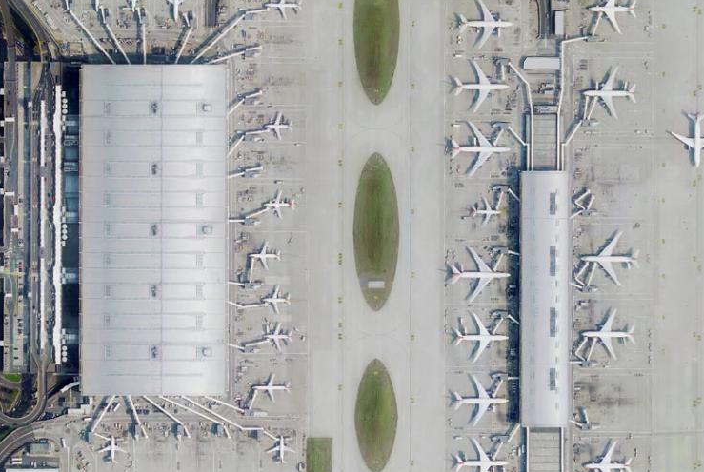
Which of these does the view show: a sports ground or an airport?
airport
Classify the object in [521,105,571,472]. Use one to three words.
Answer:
building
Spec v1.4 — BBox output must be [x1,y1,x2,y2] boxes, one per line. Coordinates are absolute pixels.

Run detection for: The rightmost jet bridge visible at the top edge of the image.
[558,12,602,171]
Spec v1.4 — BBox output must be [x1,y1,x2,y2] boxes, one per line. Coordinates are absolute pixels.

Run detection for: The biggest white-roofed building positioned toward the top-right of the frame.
[524,56,560,69]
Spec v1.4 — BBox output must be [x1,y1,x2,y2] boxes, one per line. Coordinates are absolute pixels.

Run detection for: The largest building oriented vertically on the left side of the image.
[77,64,230,395]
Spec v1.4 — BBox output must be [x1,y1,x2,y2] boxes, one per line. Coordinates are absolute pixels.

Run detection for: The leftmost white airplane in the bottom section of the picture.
[100,436,127,463]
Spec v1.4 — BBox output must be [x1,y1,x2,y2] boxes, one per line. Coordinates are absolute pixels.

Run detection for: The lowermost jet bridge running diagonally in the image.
[492,424,521,461]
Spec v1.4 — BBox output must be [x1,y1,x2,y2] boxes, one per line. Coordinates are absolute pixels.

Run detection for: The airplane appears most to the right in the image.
[671,113,704,167]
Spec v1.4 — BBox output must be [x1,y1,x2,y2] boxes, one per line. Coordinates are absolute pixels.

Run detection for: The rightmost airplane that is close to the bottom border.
[584,442,632,472]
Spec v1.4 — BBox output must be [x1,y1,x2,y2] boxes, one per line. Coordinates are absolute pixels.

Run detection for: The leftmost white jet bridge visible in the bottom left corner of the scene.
[85,396,115,441]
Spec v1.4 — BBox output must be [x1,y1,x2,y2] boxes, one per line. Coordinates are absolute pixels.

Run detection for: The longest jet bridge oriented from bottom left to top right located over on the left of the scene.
[191,7,270,64]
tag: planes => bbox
[265,323,292,350]
[268,436,295,463]
[581,231,639,285]
[456,60,510,112]
[455,374,509,426]
[590,0,637,32]
[262,285,291,314]
[583,66,636,117]
[451,247,511,302]
[671,113,704,167]
[457,437,509,472]
[472,198,501,225]
[452,122,511,176]
[266,112,293,139]
[582,307,635,358]
[100,436,127,463]
[167,0,185,22]
[463,0,513,47]
[266,0,301,19]
[253,372,291,402]
[457,312,509,362]
[584,442,632,472]
[249,241,281,270]
[266,190,294,218]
